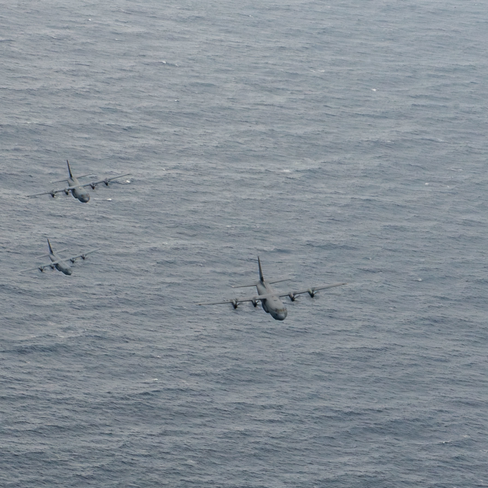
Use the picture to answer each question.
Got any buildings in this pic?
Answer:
No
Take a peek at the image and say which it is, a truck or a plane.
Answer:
plane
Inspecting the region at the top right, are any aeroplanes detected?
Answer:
No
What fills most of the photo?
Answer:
water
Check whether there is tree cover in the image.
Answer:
No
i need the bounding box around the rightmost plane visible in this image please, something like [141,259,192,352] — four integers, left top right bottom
[194,255,347,320]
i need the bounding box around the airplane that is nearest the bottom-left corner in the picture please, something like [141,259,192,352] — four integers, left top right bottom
[18,238,101,274]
